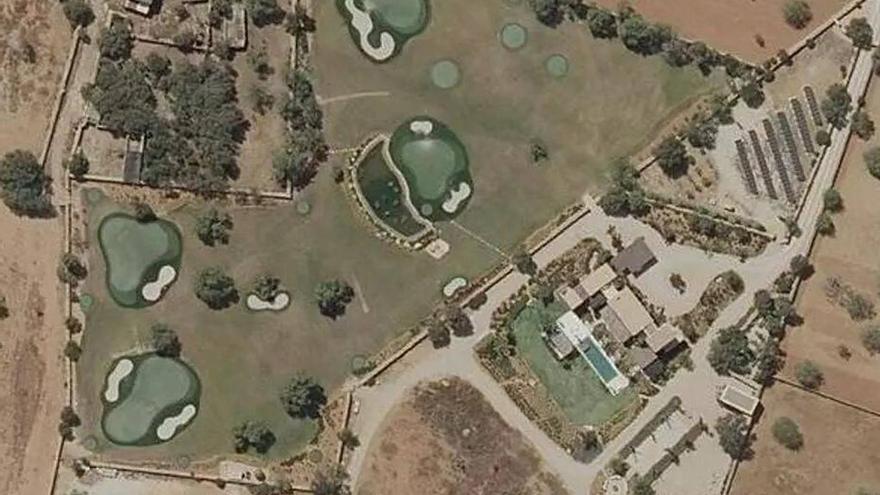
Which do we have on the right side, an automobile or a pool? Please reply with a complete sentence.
There is a pool on the right side.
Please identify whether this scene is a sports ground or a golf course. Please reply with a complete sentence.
It's a golf course.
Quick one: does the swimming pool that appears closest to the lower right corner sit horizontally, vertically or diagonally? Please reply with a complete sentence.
Seen from above, the swimming pool that appears closest to the lower right corner lies diagonally.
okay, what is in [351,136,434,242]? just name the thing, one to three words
pond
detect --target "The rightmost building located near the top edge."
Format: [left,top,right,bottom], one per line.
[226,9,245,49]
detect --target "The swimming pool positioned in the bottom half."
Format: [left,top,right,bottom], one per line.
[557,311,629,394]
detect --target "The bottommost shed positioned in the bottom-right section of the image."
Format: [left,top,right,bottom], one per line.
[720,384,761,416]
